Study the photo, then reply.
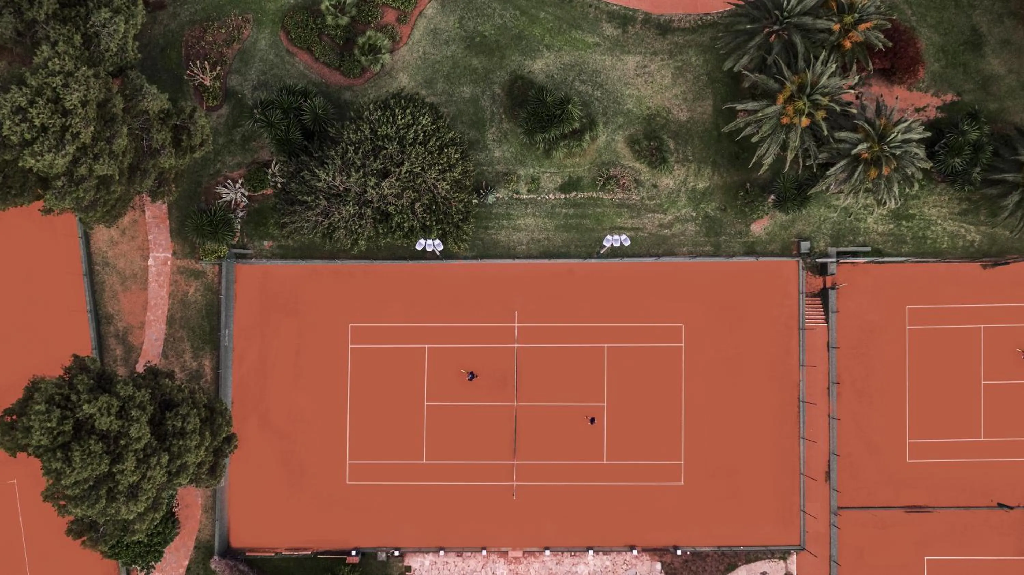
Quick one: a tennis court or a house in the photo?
tennis court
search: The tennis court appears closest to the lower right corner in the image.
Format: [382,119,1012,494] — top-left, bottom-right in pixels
[837,508,1024,575]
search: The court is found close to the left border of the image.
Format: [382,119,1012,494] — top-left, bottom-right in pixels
[0,208,121,575]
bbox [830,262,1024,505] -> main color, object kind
red tennis court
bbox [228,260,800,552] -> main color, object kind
red tennis court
